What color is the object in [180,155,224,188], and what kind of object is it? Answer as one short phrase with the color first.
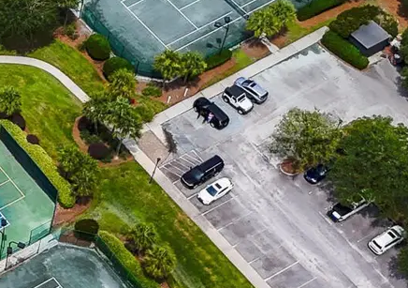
black car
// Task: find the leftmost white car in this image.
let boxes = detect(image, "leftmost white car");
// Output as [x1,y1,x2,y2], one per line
[195,177,234,205]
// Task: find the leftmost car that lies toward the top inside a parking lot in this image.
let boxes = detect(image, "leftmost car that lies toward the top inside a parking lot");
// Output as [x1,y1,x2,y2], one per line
[193,98,229,131]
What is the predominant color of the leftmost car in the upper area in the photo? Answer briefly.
black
